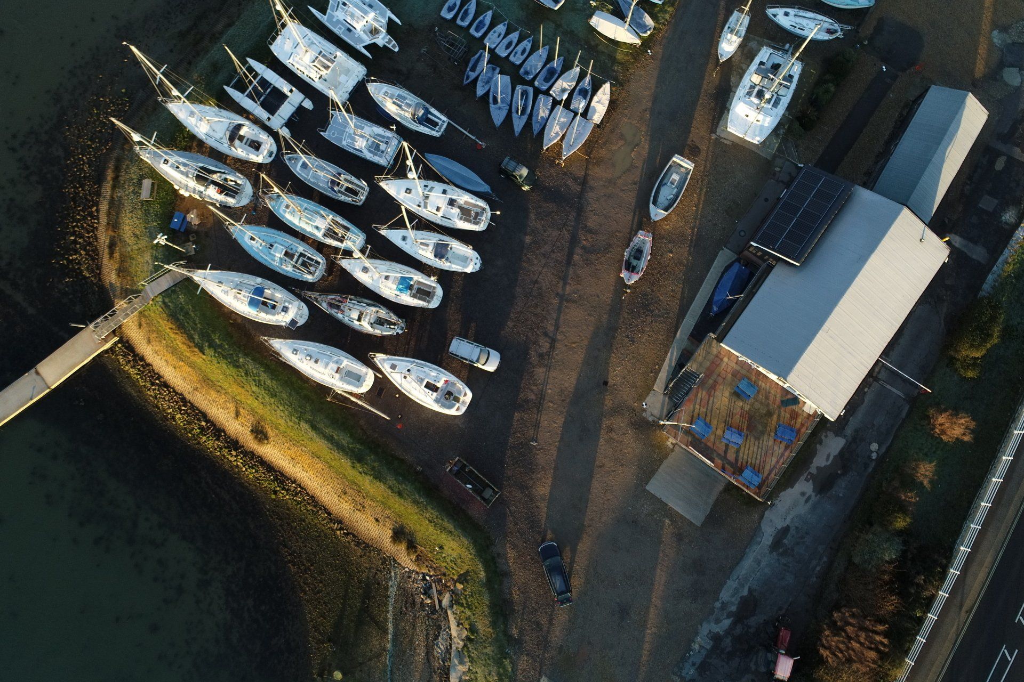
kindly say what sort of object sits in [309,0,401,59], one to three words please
boat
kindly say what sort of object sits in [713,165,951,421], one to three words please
building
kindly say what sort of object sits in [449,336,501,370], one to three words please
car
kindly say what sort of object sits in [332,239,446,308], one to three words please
boat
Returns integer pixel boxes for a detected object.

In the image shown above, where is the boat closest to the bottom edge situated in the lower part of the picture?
[446,455,501,508]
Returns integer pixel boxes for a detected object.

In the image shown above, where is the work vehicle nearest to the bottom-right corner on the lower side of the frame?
[760,607,799,679]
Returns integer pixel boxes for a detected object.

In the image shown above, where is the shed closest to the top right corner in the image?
[860,85,988,224]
